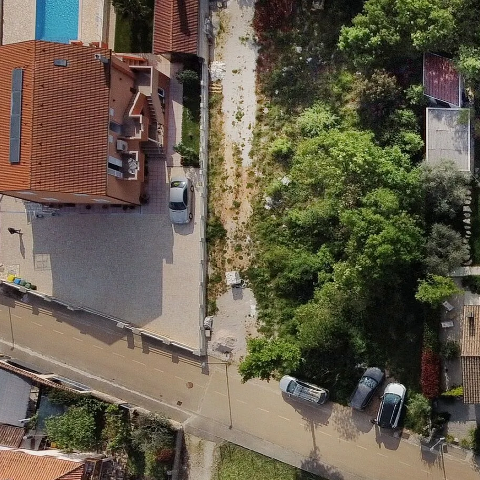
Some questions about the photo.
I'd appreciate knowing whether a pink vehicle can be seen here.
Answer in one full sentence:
No, no pink vehicle is visible in the view.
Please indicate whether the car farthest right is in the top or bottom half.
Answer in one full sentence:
The bottom half of the photo is where the car farthest right is.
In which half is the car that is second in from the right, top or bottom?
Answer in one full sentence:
Seen from above, the car that is second in from the right lies in the bottom half of the view.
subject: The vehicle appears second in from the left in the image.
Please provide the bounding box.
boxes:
[277,377,328,409]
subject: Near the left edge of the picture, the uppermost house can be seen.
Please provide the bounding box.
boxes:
[0,40,185,204]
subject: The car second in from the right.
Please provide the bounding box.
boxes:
[350,369,381,414]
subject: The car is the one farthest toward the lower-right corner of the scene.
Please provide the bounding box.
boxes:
[376,383,405,431]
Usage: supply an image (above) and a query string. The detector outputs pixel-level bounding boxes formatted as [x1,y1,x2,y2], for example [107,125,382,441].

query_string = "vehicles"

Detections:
[166,177,191,224]
[350,369,381,414]
[376,383,405,431]
[277,377,328,409]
